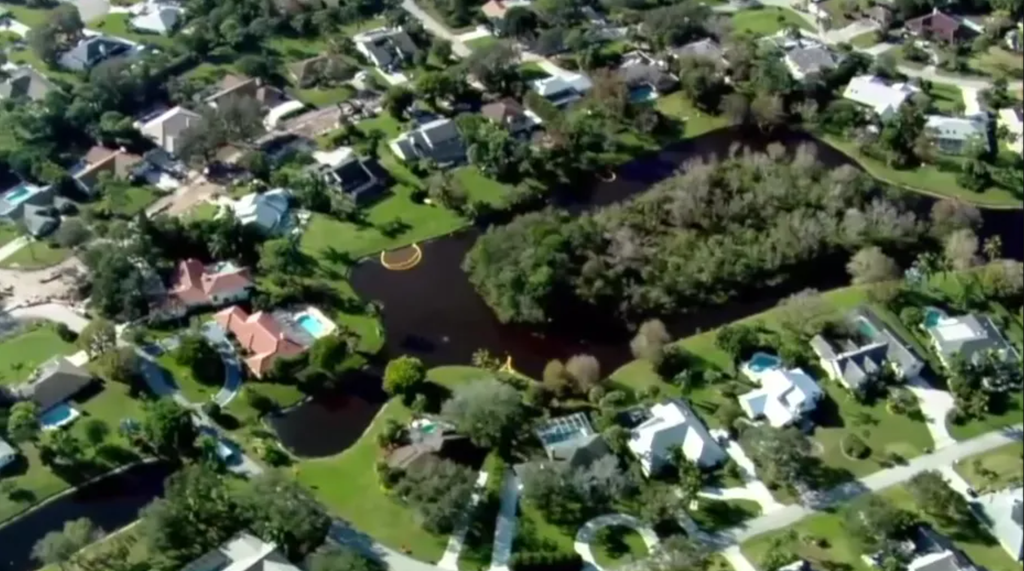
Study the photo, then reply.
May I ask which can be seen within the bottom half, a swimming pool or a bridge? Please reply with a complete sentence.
You can see a swimming pool within the bottom half.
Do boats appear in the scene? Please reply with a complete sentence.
No, the scene contains no boat.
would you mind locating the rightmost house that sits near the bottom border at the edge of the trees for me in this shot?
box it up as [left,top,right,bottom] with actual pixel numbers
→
[976,483,1024,565]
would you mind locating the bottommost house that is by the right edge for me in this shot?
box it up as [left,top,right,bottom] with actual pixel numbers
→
[895,525,980,571]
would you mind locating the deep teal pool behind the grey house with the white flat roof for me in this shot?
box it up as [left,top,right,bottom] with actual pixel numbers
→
[921,305,957,330]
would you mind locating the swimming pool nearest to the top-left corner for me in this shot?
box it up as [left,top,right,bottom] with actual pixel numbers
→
[0,184,44,214]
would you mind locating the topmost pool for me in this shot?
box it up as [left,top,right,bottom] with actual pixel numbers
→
[626,87,660,104]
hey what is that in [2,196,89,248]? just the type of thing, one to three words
house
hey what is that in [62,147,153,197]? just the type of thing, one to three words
house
